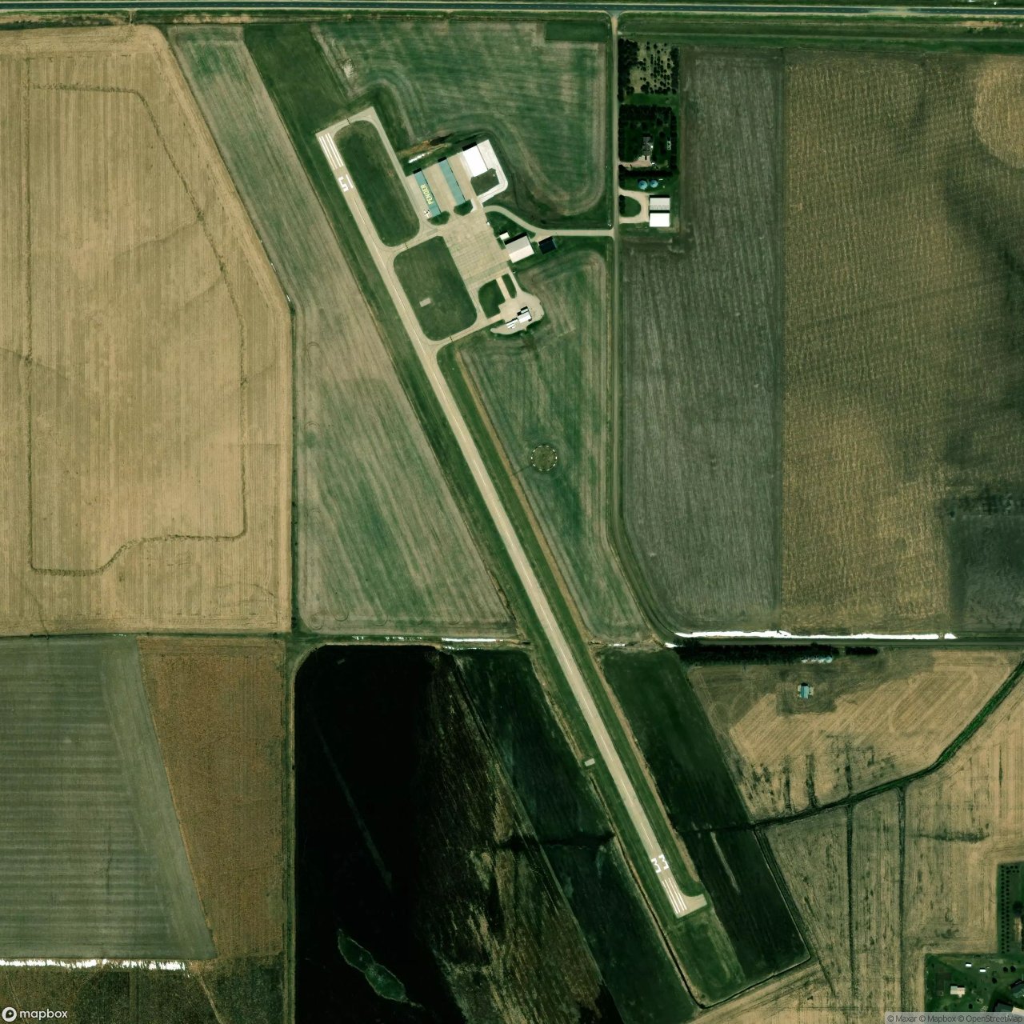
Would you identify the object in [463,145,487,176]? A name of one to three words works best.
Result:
hangar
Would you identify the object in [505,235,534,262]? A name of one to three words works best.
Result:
hangar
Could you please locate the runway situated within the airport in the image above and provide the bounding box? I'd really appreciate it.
[316,128,707,918]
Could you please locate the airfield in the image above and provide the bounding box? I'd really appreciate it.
[316,107,707,918]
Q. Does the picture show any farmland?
Yes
